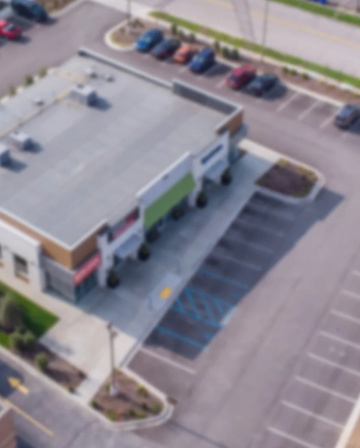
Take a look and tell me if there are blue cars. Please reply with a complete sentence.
Yes, the image includes a blue car.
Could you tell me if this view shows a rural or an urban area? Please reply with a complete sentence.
The area shown here is urban.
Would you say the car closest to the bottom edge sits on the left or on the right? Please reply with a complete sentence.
The car closest to the bottom edge is on the right side of the image.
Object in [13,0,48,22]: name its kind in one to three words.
car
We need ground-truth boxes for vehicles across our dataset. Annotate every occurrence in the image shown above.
[149,41,184,63]
[13,0,48,22]
[170,43,199,68]
[331,104,360,133]
[246,74,281,99]
[134,27,167,55]
[224,66,260,91]
[185,46,219,75]
[0,22,22,43]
